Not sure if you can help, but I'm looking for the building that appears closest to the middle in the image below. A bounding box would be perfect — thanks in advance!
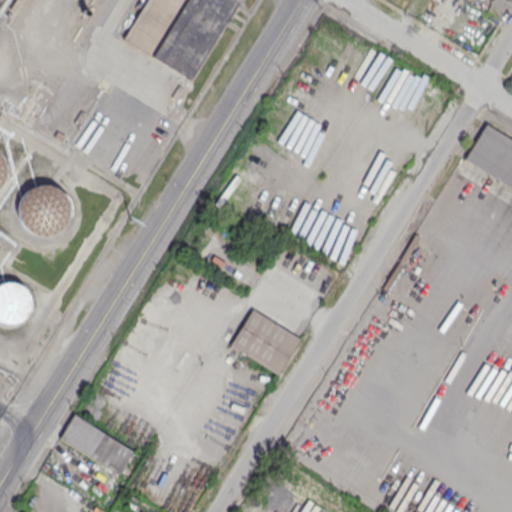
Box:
[229,308,303,377]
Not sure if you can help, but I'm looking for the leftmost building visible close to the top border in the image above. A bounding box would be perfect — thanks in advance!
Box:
[128,0,188,56]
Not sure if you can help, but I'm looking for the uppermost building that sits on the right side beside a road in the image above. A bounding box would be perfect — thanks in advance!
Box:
[463,122,512,188]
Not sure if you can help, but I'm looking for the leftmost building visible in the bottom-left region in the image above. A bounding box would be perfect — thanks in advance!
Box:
[61,414,106,458]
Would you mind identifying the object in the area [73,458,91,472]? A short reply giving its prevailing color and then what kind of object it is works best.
white vehicle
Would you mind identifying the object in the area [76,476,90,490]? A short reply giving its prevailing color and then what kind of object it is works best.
white vehicle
